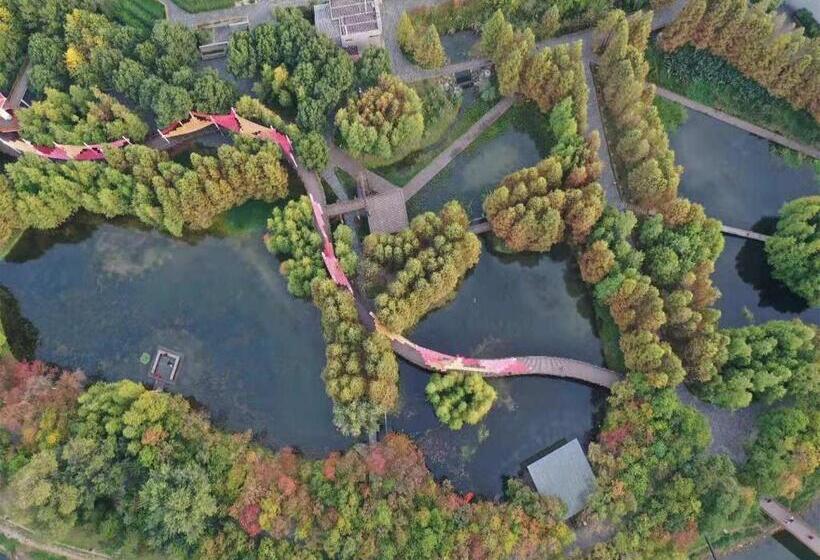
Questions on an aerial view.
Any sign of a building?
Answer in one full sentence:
Yes, there is a building in the image.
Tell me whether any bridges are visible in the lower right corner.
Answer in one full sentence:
Yes, a bridge can be seen in the lower right corner.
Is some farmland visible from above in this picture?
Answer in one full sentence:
No, farmland can't be seen anywhere here.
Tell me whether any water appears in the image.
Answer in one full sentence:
Yes, water shows up in the scene.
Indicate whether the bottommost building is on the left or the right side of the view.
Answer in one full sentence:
The bottommost building appears in the right half of the scene.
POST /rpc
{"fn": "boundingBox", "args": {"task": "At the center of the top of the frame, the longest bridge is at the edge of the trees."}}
[401,103,513,197]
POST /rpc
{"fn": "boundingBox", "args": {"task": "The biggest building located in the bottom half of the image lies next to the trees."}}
[525,439,600,518]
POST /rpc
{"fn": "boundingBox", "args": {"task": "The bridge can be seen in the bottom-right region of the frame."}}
[746,491,820,558]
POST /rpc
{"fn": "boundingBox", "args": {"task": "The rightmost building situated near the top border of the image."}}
[330,0,384,61]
